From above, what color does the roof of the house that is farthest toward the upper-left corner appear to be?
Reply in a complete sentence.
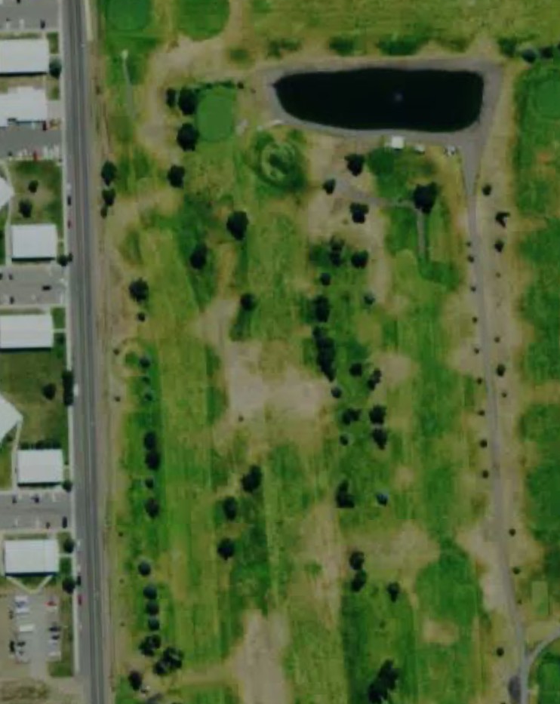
From above, the roof of the house that is farthest toward the upper-left corner looks white.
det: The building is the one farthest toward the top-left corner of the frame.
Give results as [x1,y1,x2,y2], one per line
[0,38,47,71]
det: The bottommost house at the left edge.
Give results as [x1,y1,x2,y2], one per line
[5,539,58,573]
